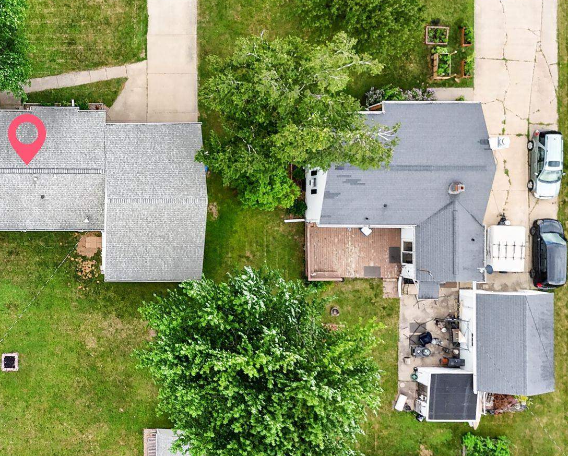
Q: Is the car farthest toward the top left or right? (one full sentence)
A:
It is on the right.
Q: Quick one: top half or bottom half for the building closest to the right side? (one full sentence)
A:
You can find the building closest to the right side in the bottom half.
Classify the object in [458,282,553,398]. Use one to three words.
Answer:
building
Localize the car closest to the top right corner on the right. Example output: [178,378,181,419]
[523,133,563,198]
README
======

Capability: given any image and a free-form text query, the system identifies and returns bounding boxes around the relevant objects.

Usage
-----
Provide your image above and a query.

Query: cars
[525,220,567,288]
[523,133,563,198]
